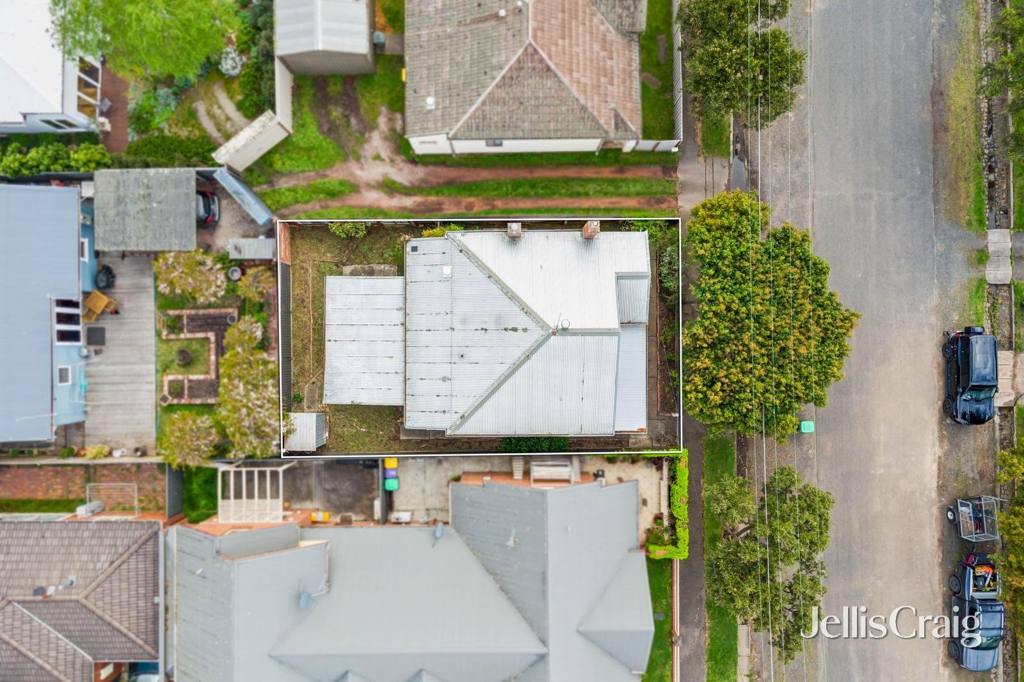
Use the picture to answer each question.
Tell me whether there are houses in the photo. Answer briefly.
Yes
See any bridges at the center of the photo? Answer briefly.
No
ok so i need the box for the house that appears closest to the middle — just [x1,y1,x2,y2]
[322,219,653,439]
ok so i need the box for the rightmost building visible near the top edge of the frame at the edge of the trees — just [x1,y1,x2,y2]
[401,0,648,156]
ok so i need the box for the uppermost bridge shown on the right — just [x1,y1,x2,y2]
[985,229,1012,283]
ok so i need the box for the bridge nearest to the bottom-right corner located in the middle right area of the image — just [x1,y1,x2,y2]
[993,351,1014,406]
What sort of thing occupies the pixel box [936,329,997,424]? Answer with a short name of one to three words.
car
